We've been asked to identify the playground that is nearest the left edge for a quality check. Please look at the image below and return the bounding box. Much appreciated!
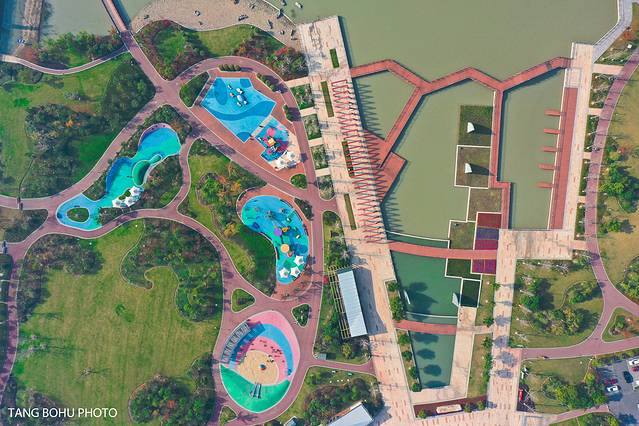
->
[56,126,181,231]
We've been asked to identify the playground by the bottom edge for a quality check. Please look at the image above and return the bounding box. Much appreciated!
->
[219,310,300,414]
